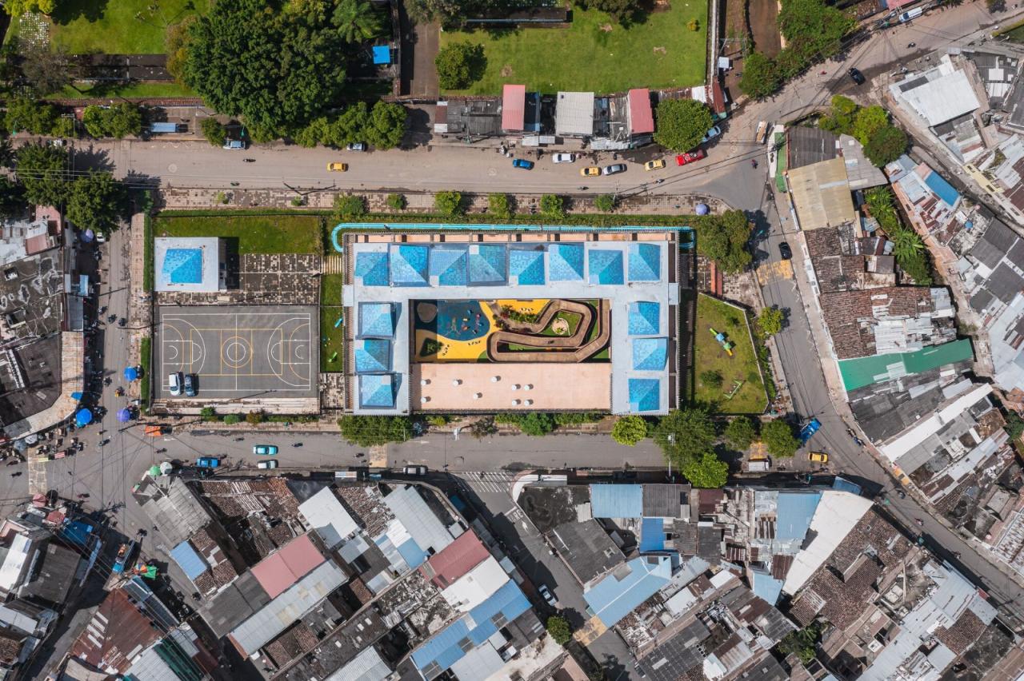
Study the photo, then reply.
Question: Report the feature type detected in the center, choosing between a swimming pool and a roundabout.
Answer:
swimming pool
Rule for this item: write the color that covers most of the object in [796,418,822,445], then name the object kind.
blue truck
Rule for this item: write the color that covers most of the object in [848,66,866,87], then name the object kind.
black car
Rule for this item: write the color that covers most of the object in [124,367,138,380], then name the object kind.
blue umbrella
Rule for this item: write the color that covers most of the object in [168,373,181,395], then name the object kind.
white vehicle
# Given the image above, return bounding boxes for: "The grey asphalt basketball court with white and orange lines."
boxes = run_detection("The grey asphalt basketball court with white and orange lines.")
[153,305,318,397]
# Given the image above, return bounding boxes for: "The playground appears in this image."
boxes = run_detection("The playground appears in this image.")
[413,301,549,364]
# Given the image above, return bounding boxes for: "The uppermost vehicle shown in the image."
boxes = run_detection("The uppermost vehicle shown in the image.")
[897,5,924,23]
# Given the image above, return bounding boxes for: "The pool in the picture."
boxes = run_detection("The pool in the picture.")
[413,301,489,340]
